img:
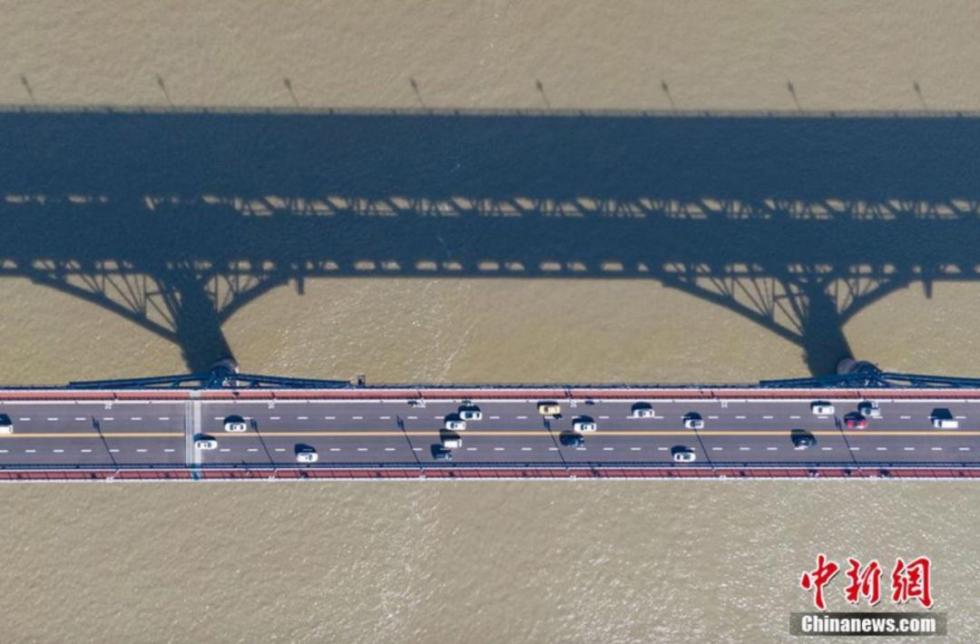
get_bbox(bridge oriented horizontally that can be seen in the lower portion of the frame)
[0,357,980,481]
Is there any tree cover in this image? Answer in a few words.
No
